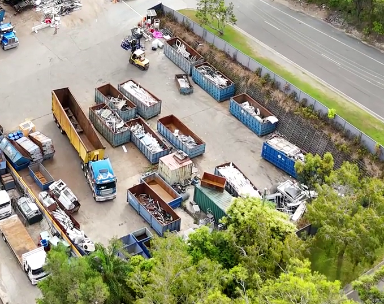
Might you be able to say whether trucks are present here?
Yes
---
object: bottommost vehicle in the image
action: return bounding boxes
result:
[0,211,50,283]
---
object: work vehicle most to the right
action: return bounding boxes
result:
[129,39,155,71]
